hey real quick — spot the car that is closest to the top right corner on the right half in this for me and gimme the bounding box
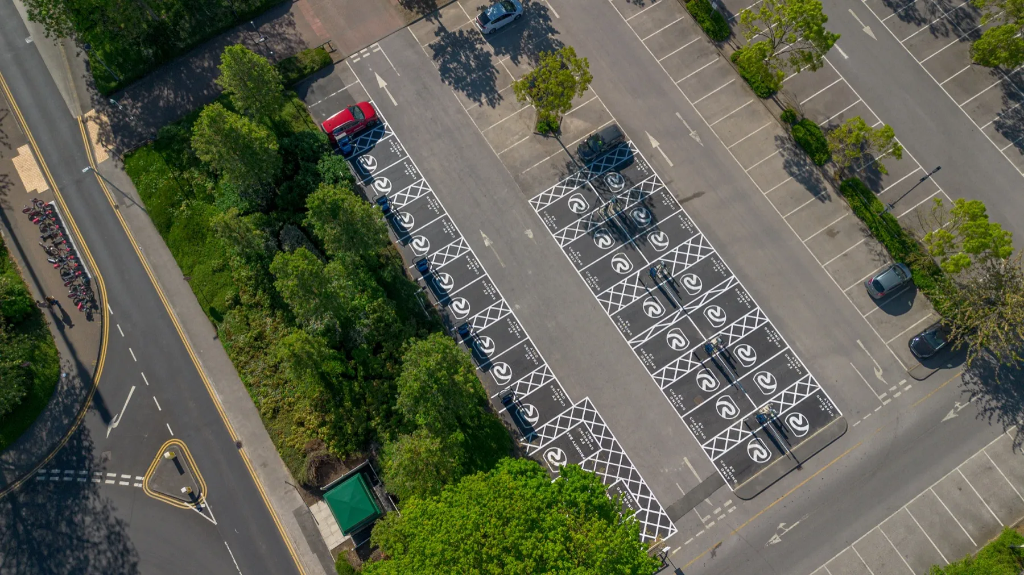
[859,261,913,304]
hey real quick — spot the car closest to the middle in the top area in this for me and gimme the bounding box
[575,122,629,165]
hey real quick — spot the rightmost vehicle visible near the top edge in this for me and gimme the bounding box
[476,0,525,36]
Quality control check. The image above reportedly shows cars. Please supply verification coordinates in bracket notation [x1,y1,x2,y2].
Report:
[902,317,962,363]
[321,102,378,143]
[476,0,525,36]
[859,261,913,304]
[575,122,629,165]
